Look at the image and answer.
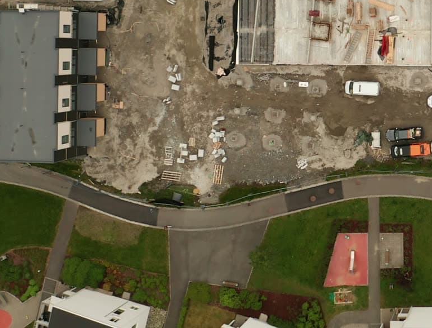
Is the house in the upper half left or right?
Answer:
left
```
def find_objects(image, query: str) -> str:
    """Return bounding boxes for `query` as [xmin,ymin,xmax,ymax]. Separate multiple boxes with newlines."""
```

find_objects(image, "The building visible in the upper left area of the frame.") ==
[0,5,108,163]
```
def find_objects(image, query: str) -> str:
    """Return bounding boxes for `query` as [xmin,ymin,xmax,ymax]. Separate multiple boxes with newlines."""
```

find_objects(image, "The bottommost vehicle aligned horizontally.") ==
[392,143,430,156]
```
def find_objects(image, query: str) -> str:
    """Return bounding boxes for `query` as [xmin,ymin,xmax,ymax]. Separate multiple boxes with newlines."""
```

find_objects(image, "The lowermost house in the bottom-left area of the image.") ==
[44,284,150,328]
